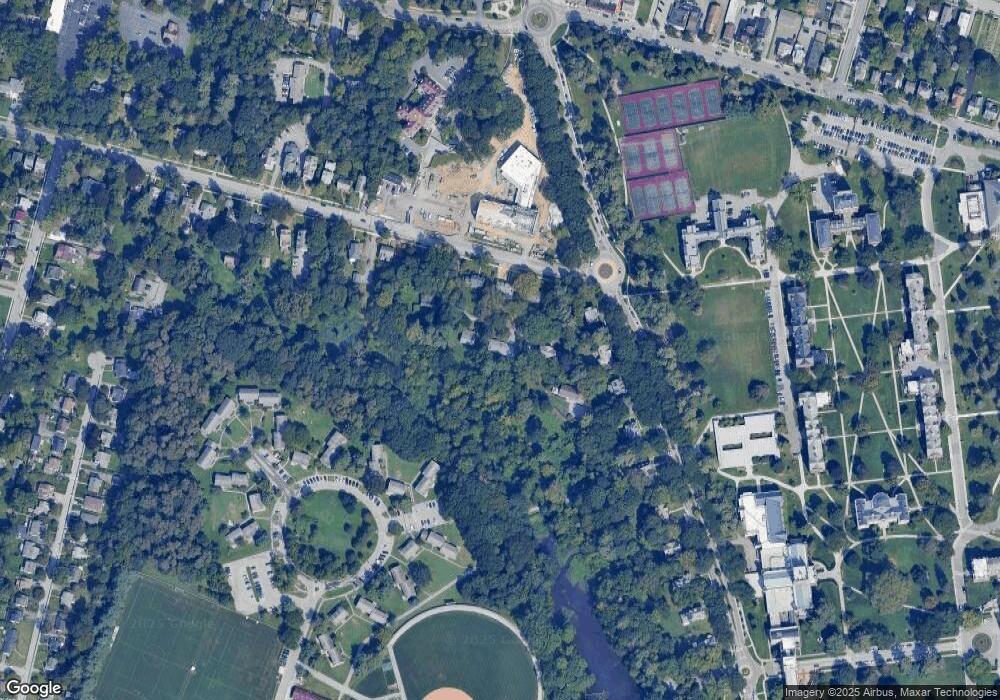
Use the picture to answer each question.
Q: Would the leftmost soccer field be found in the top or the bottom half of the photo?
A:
bottom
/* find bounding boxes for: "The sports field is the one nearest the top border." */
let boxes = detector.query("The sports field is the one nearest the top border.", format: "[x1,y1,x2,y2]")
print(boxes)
[678,113,790,197]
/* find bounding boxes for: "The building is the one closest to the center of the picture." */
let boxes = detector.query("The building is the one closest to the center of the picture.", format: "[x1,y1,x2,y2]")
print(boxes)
[487,337,511,355]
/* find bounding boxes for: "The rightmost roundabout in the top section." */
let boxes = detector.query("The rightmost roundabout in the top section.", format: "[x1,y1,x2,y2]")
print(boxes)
[587,253,621,287]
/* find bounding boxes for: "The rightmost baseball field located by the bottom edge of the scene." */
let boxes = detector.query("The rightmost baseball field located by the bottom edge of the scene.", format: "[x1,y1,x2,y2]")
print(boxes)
[387,606,542,700]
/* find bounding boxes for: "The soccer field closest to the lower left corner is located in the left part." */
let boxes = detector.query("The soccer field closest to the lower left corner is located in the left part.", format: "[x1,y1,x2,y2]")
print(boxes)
[90,573,283,700]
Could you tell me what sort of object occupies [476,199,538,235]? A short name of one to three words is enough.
building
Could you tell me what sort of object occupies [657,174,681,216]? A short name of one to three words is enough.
tennis court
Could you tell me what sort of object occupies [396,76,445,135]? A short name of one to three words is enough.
house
